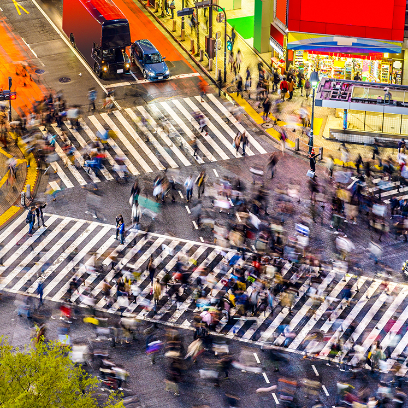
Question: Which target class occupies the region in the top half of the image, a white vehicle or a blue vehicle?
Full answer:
You can see a blue vehicle in the top half of the image.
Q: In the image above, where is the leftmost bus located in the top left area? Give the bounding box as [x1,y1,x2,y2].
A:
[59,0,136,80]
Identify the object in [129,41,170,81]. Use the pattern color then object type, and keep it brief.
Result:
blue car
